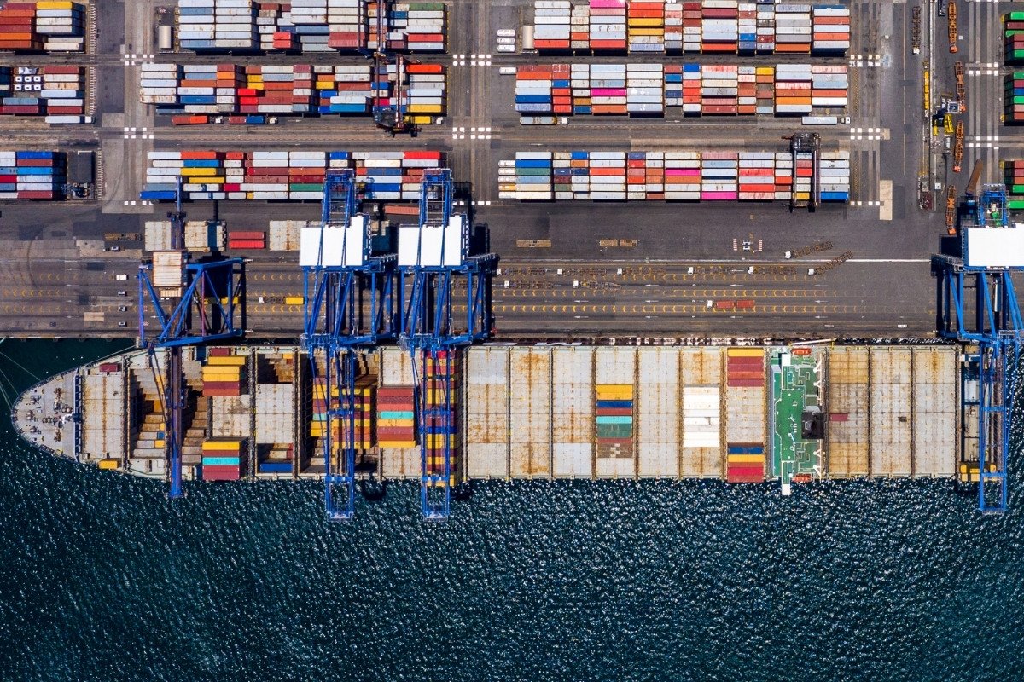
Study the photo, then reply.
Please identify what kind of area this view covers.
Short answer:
port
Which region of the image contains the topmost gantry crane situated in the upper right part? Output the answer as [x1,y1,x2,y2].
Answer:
[787,132,820,215]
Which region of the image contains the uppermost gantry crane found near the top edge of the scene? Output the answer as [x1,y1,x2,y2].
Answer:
[357,0,398,65]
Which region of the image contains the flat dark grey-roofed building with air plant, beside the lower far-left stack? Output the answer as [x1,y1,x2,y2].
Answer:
[65,152,100,202]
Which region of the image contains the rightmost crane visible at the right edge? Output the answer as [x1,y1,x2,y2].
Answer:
[930,183,1024,516]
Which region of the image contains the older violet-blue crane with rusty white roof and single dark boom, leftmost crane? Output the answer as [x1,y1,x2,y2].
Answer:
[127,170,257,500]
